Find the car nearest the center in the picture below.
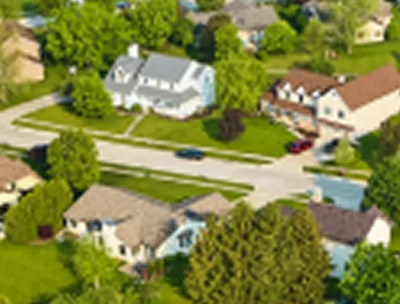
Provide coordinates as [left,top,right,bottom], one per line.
[174,147,205,162]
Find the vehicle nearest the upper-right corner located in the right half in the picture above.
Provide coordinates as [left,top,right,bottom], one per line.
[322,138,343,156]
